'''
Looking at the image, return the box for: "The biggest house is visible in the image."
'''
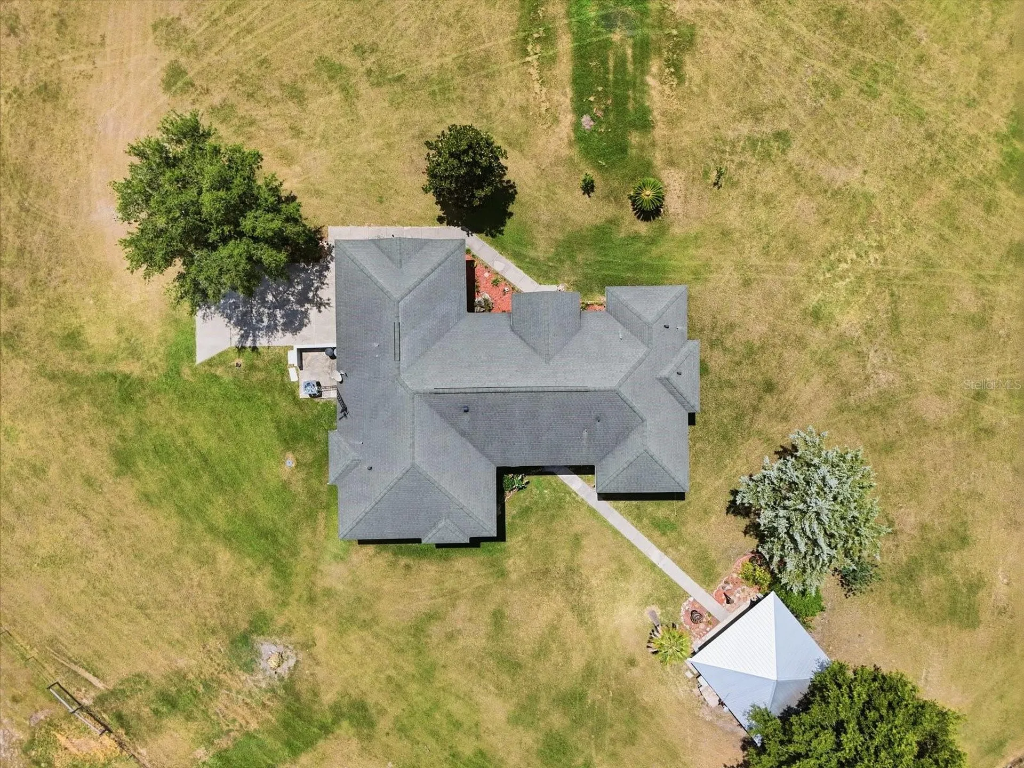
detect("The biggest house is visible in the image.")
[328,234,701,544]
